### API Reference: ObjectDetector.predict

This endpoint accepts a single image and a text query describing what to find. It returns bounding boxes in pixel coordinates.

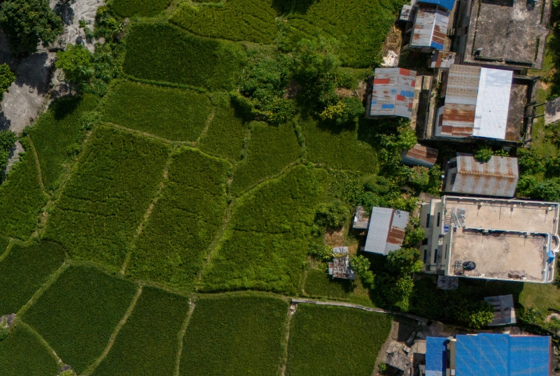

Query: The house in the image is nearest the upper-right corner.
[451,0,551,74]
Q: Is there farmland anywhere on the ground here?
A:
Yes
